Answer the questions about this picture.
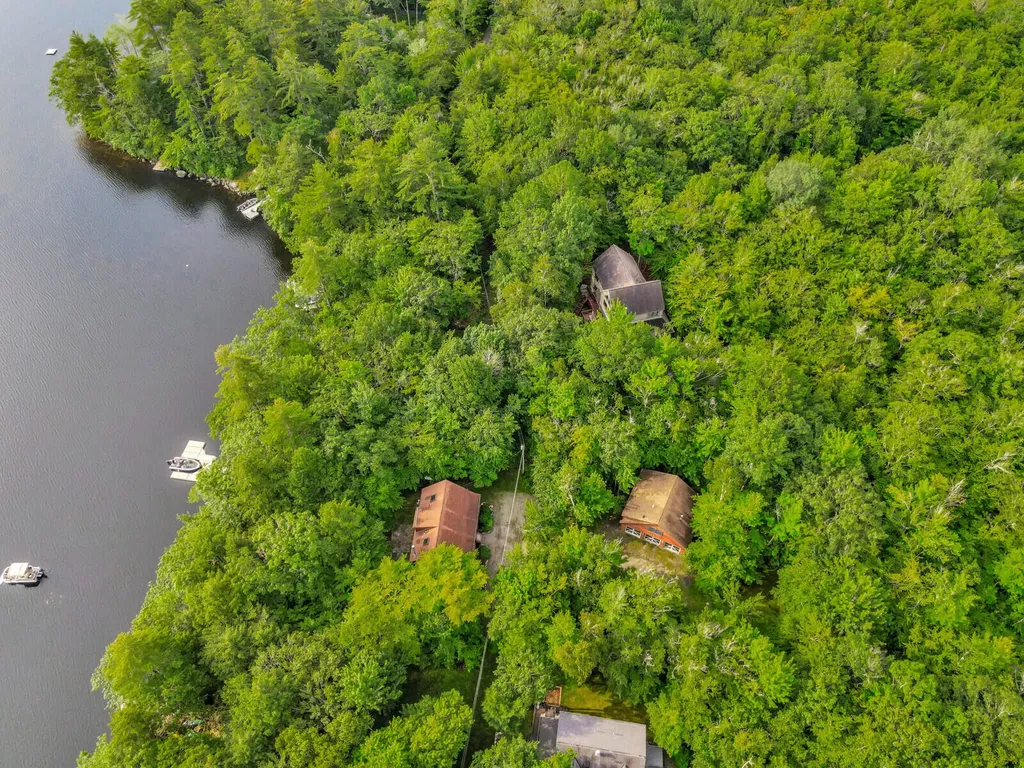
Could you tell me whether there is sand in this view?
No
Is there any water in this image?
Yes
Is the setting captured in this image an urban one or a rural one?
rural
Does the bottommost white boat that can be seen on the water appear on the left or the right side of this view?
left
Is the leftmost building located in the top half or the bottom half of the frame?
bottom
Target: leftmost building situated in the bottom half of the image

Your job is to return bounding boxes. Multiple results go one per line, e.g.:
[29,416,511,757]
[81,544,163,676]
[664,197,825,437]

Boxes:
[407,482,482,562]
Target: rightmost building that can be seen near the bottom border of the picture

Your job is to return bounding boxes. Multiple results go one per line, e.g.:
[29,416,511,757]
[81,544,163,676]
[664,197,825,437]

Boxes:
[528,680,663,768]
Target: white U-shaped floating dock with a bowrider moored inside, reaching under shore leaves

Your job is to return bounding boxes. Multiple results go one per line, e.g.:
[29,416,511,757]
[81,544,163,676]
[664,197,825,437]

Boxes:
[168,438,226,485]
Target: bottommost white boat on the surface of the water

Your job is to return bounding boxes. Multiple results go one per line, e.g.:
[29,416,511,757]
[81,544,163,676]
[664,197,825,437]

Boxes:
[2,563,45,584]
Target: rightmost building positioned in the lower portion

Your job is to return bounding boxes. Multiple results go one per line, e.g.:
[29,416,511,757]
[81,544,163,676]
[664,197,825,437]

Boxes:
[620,470,697,549]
